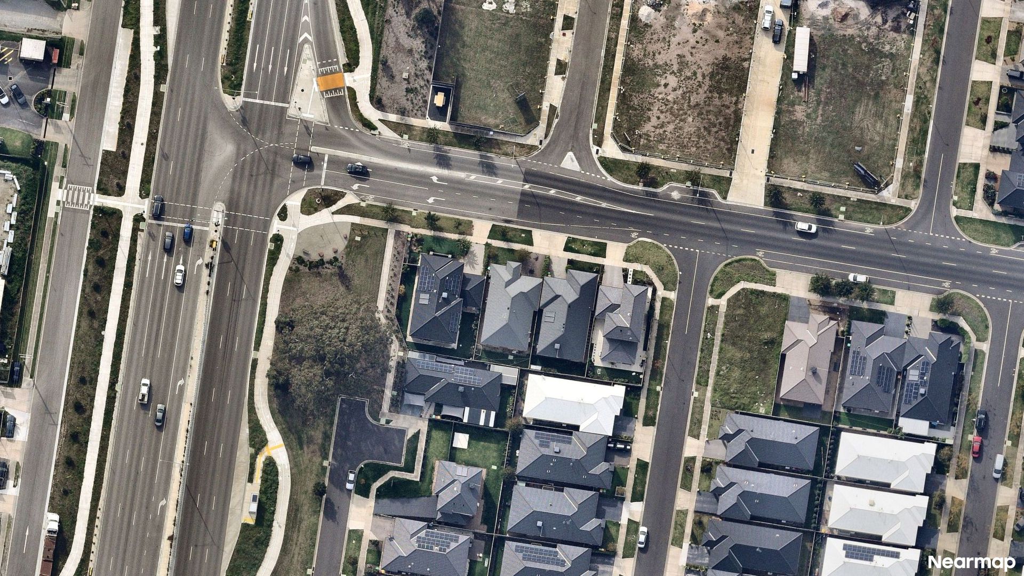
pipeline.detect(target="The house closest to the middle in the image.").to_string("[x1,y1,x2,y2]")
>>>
[481,260,543,351]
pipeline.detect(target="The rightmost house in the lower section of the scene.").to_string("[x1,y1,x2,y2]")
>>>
[897,332,961,436]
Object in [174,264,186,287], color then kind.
white vehicle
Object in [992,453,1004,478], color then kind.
white vehicle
